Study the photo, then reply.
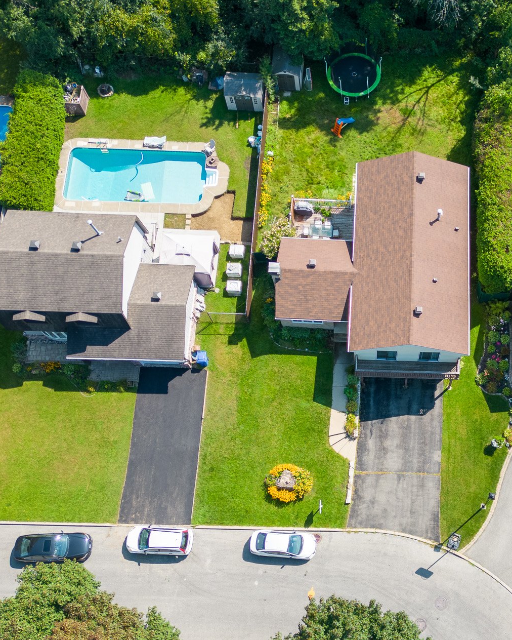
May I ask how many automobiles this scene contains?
3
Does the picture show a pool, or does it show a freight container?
pool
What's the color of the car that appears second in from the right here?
white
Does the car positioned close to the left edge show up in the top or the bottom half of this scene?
bottom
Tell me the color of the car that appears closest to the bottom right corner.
white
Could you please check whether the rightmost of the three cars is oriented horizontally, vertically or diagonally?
horizontally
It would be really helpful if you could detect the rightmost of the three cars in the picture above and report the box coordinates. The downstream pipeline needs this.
[248,528,319,562]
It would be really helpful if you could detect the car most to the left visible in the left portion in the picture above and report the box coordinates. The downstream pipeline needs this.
[12,529,94,564]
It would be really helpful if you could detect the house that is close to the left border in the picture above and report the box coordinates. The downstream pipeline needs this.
[0,210,203,369]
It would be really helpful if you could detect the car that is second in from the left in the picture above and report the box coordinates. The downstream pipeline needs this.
[124,522,195,558]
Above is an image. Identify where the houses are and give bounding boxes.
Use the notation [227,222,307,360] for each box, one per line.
[0,210,203,369]
[266,151,472,393]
